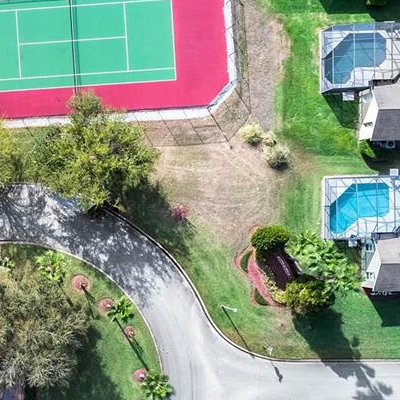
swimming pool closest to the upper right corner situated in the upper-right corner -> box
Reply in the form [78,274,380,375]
[319,25,399,95]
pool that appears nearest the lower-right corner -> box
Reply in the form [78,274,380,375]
[323,176,400,241]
